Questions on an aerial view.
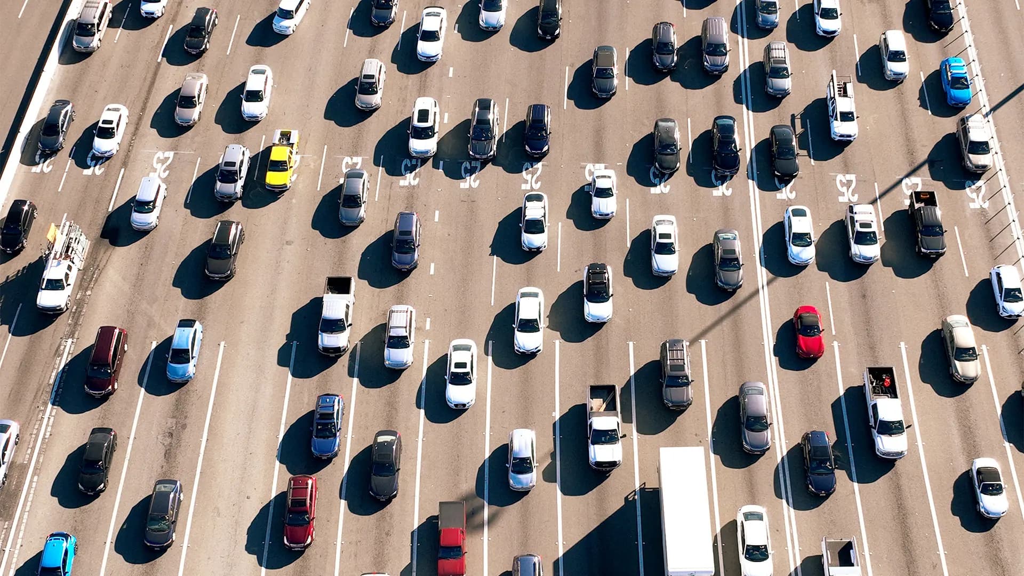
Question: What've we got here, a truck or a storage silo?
truck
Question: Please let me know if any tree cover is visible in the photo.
No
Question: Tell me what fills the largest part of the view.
paved ground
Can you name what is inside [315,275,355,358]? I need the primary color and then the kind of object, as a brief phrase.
white truck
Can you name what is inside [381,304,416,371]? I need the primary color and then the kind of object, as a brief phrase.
white car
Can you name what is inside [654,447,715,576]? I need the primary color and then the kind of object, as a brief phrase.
white truck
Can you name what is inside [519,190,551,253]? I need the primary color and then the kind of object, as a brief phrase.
white car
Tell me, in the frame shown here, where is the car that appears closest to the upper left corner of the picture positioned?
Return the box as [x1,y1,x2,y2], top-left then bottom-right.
[73,0,111,54]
